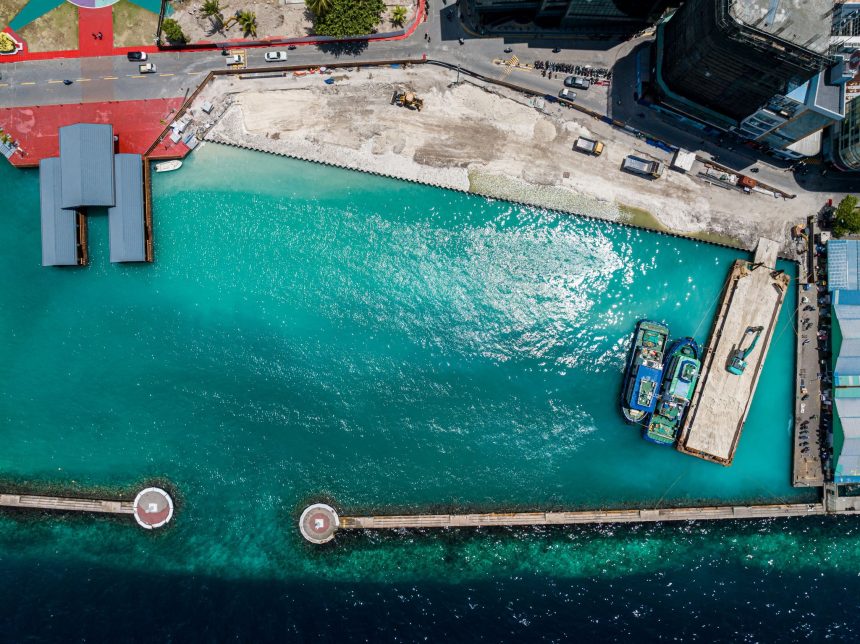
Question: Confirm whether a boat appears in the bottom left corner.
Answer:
No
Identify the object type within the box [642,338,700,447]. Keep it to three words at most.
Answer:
boat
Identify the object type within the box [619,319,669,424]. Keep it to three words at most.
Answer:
boat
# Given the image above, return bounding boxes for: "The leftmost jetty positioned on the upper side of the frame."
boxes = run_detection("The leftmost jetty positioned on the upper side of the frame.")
[53,204,88,266]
